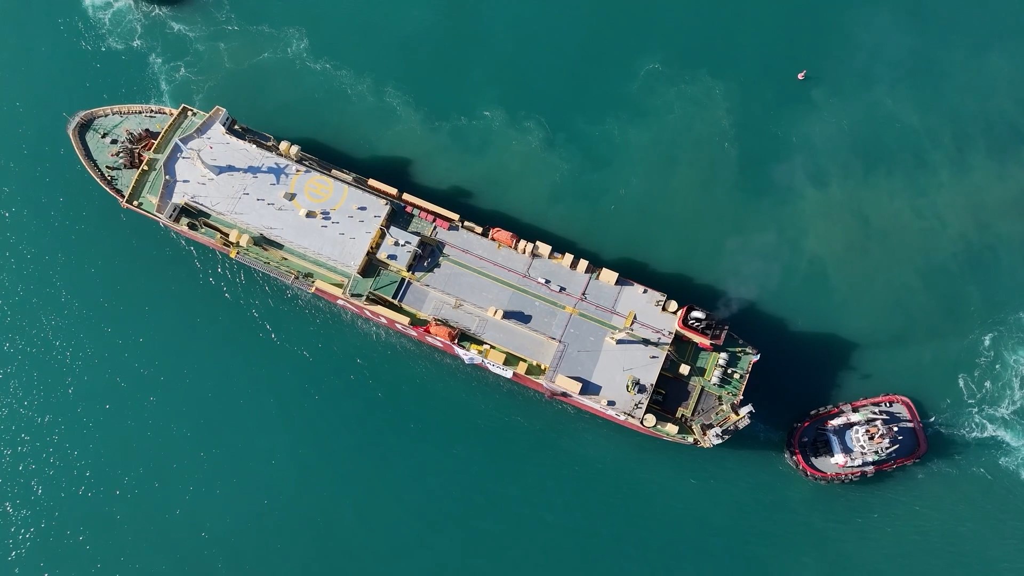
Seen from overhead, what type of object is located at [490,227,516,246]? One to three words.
boat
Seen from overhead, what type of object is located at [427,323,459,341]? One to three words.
boat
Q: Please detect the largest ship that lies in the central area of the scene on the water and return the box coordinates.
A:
[56,102,756,448]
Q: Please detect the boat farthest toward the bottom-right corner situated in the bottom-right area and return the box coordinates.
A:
[787,391,928,481]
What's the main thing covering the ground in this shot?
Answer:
water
